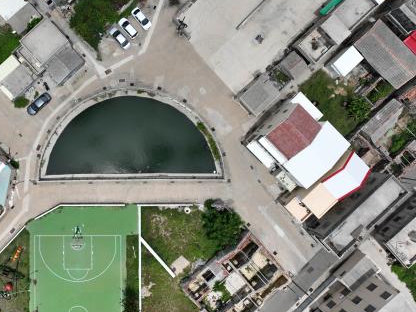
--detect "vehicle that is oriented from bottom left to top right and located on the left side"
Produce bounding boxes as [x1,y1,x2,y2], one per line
[25,91,52,116]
